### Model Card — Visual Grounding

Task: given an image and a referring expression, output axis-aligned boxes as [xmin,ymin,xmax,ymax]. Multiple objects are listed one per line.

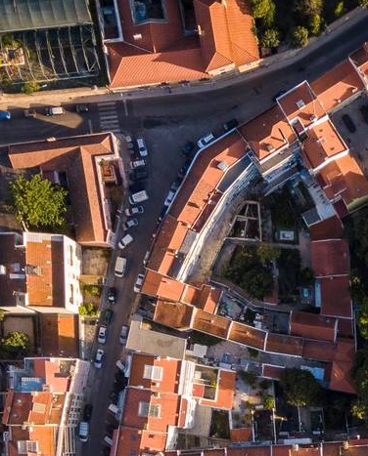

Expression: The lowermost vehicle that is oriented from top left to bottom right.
[100,433,116,448]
